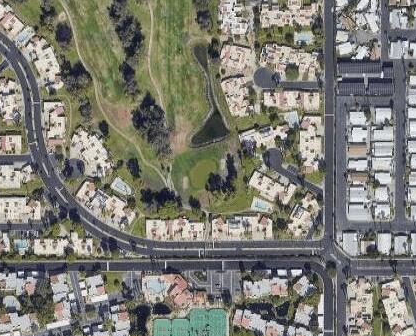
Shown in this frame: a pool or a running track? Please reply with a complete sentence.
This aerial view contains a pool.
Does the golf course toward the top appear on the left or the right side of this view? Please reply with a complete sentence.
The golf course toward the top appears in the left half of the scene.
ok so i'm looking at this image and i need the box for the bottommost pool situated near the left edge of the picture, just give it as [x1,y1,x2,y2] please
[3,294,18,309]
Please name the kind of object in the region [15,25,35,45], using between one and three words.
swimming pool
